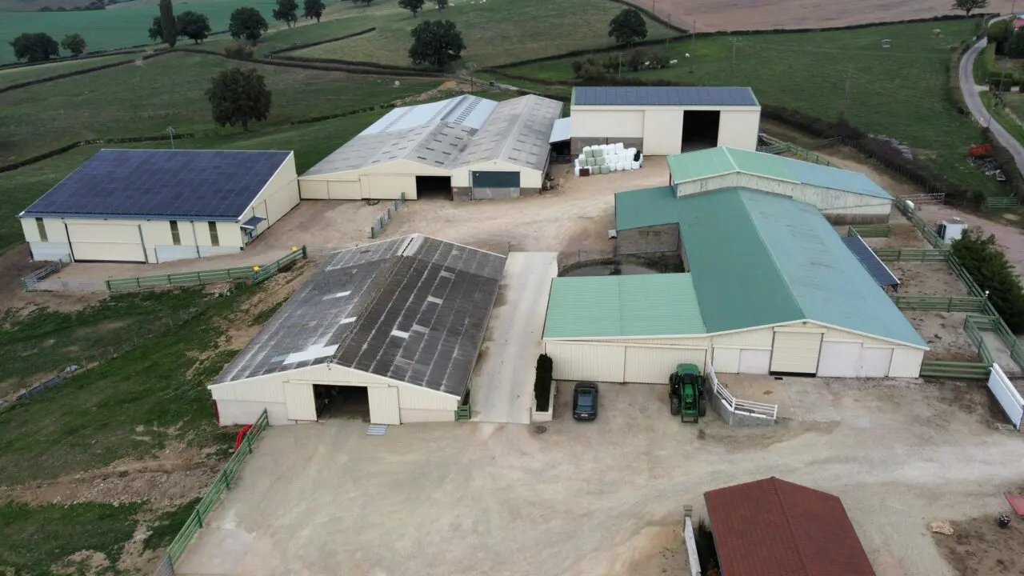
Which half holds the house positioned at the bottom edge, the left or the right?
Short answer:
right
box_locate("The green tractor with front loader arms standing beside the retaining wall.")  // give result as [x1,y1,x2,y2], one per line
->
[669,357,709,424]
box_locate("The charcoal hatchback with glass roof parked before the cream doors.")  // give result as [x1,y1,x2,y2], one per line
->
[568,382,597,419]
